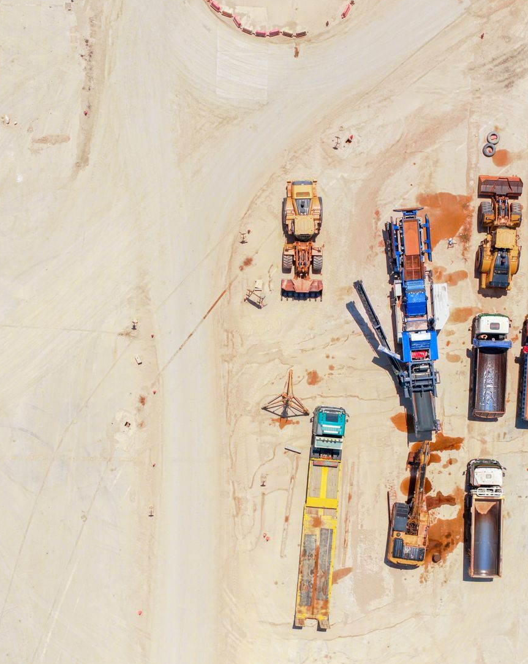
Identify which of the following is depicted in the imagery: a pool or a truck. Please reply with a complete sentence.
There is a truck in the scene.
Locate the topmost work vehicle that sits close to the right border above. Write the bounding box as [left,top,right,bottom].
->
[480,178,525,291]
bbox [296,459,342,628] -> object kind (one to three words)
trailer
